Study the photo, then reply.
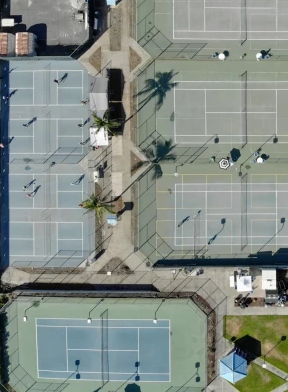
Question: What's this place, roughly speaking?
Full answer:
The picture captures a sports ground.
